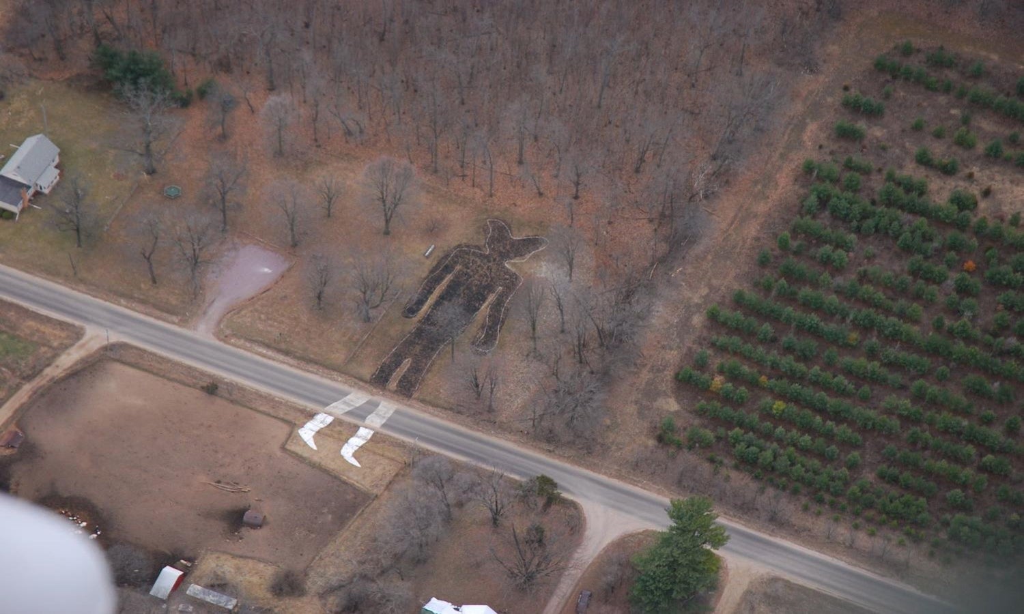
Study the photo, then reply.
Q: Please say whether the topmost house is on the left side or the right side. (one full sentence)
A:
You can find the topmost house on the left side of the picture.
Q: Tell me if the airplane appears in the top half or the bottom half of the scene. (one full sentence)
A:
Seen from above, the airplane lies in the bottom half of the view.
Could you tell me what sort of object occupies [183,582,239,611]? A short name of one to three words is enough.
shed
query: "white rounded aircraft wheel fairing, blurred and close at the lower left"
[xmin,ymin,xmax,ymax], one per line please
[0,489,121,614]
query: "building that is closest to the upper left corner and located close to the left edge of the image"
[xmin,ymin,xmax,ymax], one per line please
[0,137,63,223]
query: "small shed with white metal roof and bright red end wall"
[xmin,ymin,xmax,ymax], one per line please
[150,568,184,600]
